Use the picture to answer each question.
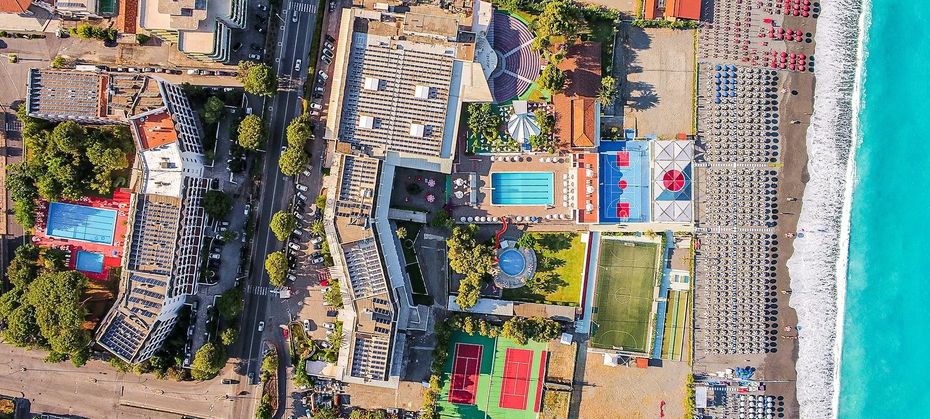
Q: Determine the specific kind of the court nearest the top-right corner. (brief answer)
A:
basketball court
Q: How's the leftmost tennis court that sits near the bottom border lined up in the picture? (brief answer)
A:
vertically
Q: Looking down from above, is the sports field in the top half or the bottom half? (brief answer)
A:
bottom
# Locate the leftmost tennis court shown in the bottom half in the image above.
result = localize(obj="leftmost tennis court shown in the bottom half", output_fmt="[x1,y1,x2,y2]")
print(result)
[449,343,483,404]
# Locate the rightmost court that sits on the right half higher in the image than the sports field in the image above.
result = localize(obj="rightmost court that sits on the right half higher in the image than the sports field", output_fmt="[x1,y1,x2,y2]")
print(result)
[599,141,650,223]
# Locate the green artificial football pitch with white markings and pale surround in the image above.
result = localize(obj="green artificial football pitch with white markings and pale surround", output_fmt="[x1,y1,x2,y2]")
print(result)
[589,234,665,356]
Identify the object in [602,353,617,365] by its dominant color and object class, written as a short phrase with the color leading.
white gazebo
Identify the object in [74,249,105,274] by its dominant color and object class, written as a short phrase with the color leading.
blue swimming pool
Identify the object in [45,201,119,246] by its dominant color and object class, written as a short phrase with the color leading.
blue swimming pool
